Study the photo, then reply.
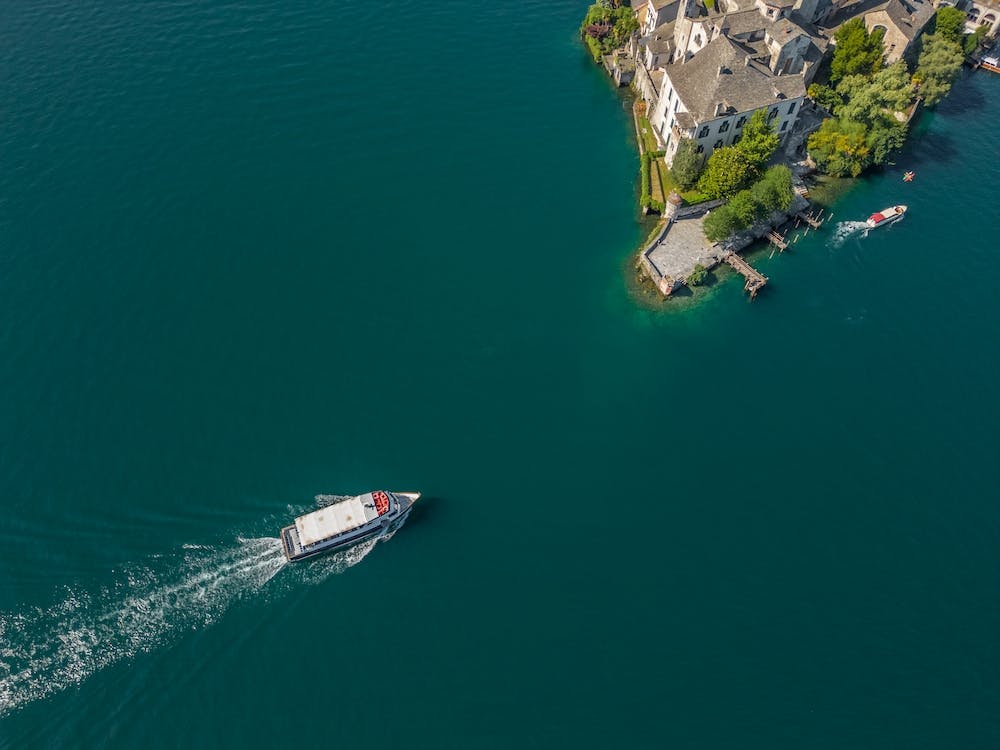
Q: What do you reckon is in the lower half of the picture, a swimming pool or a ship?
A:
ship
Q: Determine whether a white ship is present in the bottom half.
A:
Yes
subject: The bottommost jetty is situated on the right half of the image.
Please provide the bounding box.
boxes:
[731,252,769,293]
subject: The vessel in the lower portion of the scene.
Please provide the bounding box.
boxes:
[282,491,423,564]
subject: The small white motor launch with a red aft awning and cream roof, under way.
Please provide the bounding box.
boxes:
[865,205,906,229]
